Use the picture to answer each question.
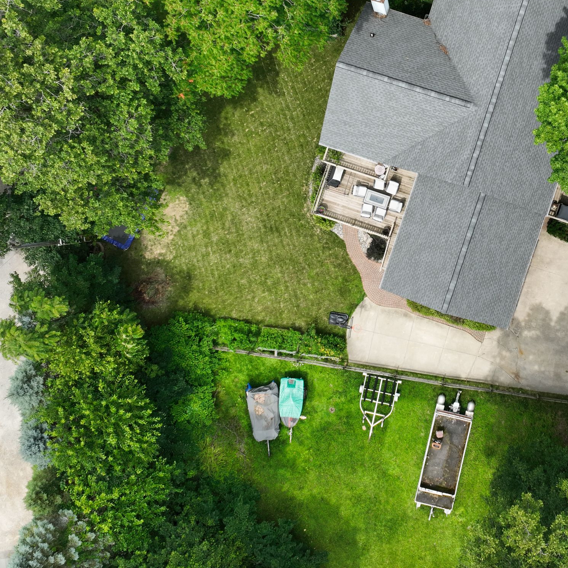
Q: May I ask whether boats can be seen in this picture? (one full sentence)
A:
Yes, the photo shows a boat.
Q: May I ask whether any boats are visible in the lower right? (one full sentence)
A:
Yes, a boat can be seen in the lower right.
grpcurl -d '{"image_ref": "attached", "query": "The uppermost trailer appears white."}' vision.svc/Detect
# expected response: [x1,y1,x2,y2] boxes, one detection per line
[358,374,401,441]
